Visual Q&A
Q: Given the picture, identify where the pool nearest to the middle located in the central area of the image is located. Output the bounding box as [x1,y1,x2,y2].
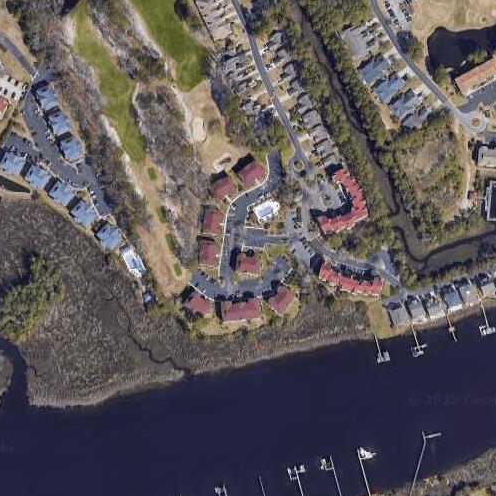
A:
[254,199,279,222]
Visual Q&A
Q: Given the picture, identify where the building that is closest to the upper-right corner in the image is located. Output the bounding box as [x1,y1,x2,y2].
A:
[453,57,496,98]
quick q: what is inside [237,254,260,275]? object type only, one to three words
house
